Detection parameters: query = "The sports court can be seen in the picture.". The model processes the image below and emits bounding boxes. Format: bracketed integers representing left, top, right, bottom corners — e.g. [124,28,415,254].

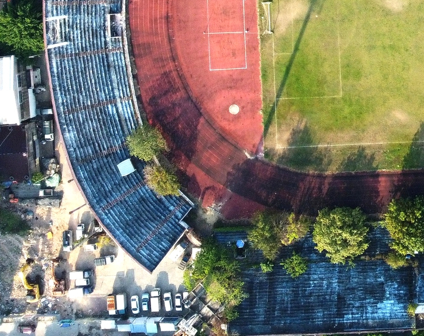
[207,0,247,71]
